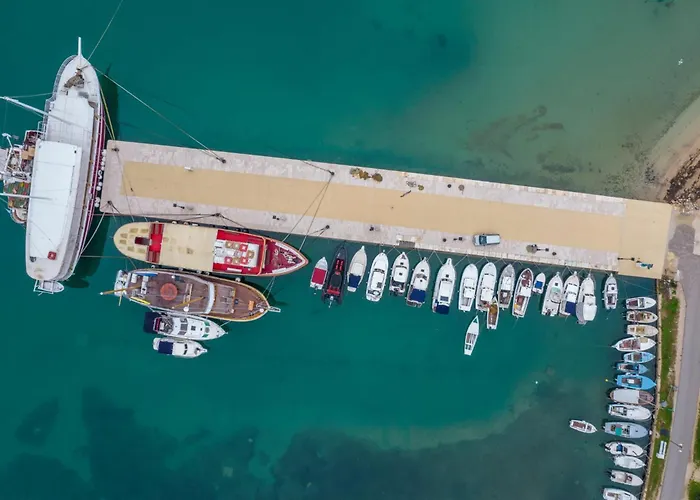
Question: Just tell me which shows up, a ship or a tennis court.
ship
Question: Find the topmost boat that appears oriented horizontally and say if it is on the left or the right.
left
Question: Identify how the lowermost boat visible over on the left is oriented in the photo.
horizontally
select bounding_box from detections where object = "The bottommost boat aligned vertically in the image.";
[464,316,480,355]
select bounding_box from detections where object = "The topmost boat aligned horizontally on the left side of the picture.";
[114,220,308,276]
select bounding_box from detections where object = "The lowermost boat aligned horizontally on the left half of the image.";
[152,336,209,357]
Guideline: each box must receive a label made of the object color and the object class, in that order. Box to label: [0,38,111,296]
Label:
white ship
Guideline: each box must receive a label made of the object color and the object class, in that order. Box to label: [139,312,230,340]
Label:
white boat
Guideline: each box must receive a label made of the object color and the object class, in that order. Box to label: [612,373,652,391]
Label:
blue boat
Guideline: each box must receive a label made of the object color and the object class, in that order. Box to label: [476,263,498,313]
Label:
white boat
